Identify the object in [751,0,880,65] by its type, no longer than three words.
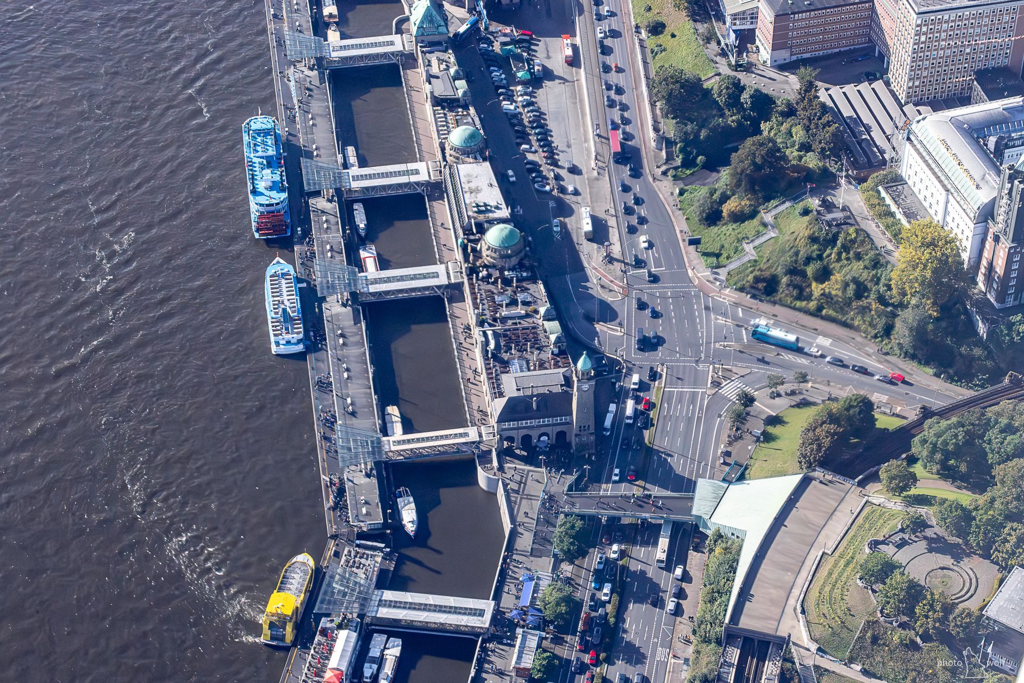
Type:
building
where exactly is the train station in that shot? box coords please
[690,466,866,683]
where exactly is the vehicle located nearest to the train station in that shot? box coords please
[657,521,674,568]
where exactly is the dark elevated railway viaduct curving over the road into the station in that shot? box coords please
[844,369,1024,492]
